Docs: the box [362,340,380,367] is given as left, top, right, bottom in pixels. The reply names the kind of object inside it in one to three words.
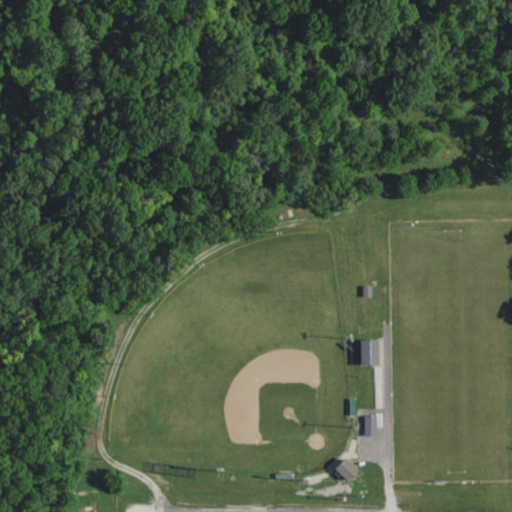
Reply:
building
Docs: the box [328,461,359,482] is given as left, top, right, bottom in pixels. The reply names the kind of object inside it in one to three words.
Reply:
building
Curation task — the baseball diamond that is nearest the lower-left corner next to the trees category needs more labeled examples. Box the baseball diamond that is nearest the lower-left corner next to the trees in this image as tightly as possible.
[110,231,348,468]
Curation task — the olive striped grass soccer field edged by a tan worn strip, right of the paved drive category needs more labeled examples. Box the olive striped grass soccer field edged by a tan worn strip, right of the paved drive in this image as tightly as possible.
[388,218,512,484]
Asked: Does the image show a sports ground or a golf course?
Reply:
sports ground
